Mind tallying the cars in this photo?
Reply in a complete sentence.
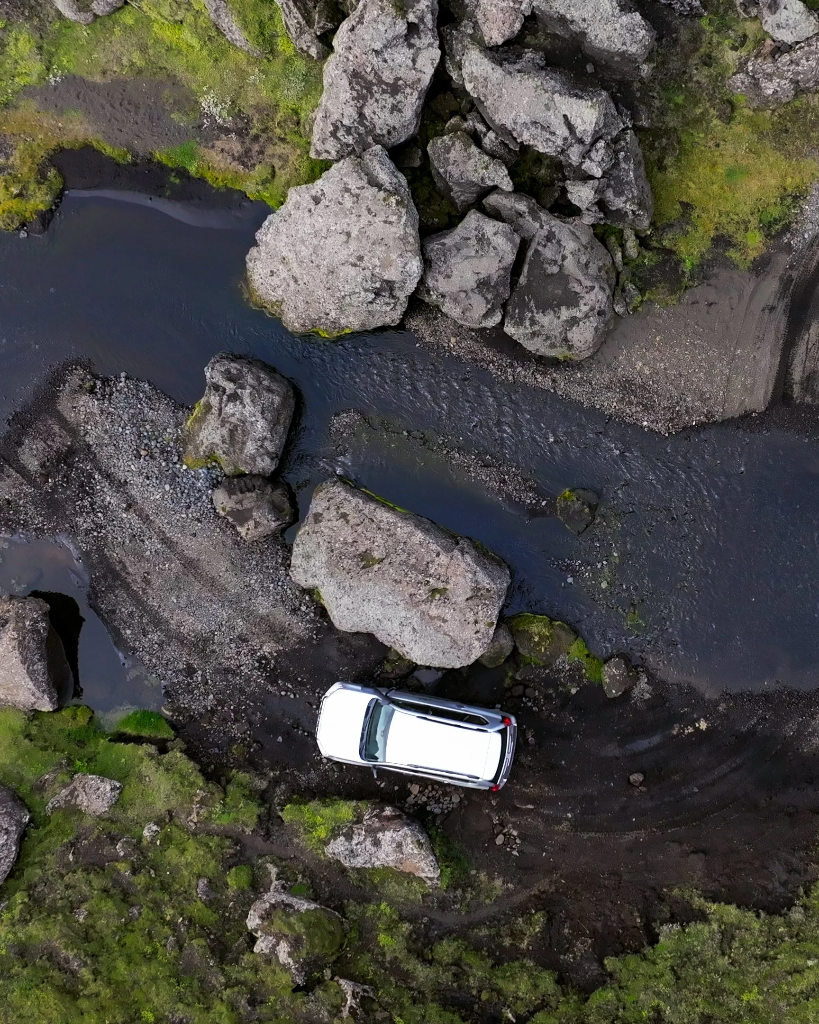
There is 1 car in the image.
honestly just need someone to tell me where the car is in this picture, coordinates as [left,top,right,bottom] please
[317,681,517,793]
